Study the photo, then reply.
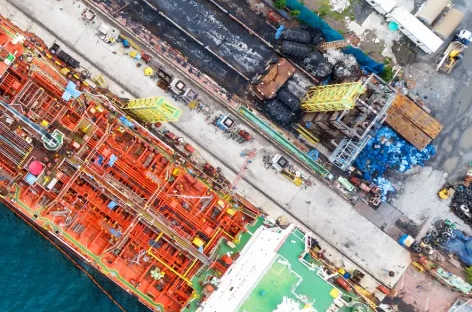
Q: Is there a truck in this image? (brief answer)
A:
Yes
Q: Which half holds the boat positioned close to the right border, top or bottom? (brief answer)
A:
bottom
